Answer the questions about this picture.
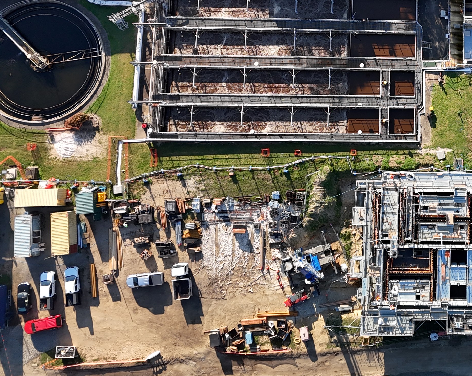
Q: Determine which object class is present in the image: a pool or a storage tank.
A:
storage tank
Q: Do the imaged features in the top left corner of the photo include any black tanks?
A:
Yes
